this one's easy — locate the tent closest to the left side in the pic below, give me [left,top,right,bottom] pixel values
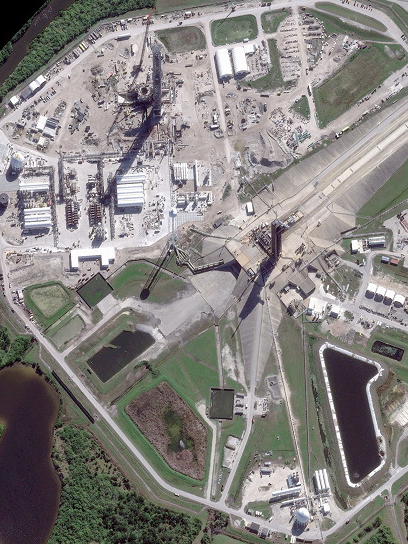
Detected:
[216,51,233,81]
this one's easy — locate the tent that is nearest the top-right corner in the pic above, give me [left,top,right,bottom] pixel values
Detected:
[232,49,250,78]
